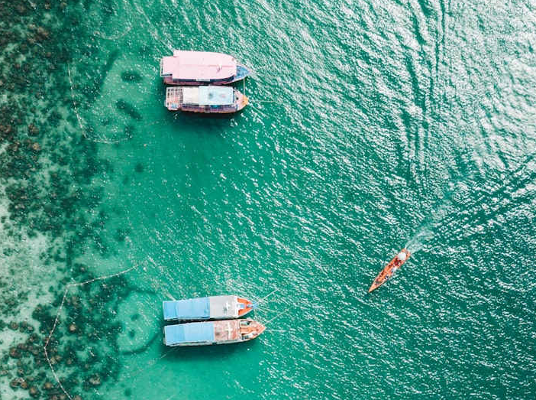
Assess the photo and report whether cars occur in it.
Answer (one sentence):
No, no car is visible in the view.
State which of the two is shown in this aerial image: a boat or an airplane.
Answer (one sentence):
This aerial view contains a boat.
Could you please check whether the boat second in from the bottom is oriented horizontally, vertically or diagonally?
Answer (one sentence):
In this picture, the boat second in from the bottom is oriented horizontally.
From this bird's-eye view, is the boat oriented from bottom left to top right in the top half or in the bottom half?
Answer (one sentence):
Seen from above, the boat oriented from bottom left to top right lies in the bottom half of the view.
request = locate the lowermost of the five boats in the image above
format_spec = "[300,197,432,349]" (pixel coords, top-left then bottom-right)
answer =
[162,313,287,354]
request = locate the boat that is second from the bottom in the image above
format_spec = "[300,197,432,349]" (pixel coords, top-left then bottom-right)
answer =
[162,291,274,320]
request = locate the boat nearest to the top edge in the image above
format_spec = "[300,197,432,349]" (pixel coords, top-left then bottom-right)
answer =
[161,42,273,96]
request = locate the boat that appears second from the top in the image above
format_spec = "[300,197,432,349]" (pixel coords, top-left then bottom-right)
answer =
[163,86,262,120]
